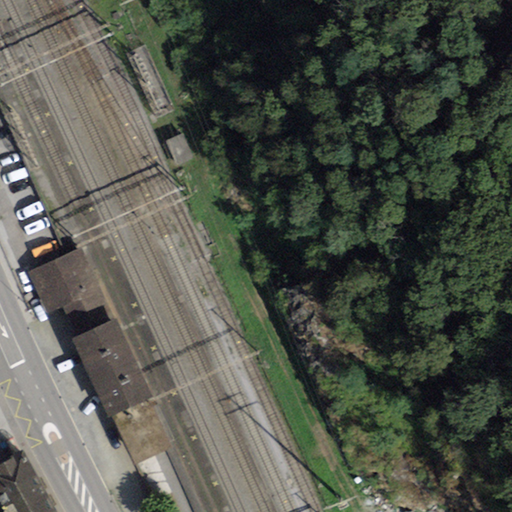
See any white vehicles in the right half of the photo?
No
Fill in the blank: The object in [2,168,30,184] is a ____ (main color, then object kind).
white vehicle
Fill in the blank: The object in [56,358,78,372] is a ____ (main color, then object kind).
white car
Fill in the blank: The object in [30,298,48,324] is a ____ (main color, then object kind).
white car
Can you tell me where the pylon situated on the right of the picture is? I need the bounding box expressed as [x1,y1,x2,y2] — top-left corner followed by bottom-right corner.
[324,494,358,508]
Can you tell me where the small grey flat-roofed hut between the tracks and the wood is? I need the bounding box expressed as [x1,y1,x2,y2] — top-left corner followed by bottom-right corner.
[166,134,194,164]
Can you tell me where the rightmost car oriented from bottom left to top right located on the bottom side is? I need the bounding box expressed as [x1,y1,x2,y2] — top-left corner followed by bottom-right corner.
[80,395,100,416]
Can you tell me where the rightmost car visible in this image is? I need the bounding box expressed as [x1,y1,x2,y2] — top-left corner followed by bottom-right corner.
[108,426,124,450]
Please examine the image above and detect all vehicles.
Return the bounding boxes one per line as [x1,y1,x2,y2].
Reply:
[24,218,50,234]
[30,298,48,324]
[32,238,59,256]
[0,129,14,142]
[17,270,34,294]
[80,395,100,416]
[17,202,44,219]
[0,154,21,166]
[10,180,32,194]
[108,426,124,450]
[2,168,30,184]
[56,358,78,372]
